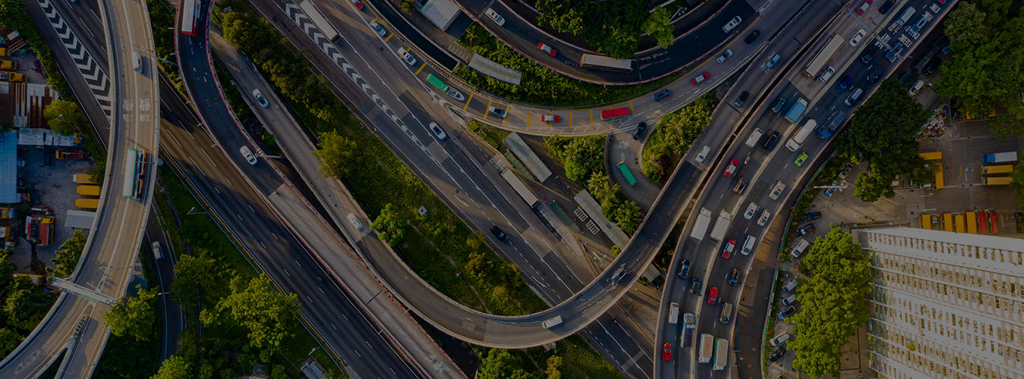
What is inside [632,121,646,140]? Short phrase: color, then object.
black car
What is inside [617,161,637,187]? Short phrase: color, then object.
green vehicle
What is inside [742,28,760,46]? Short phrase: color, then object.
black car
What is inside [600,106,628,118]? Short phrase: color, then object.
red vehicle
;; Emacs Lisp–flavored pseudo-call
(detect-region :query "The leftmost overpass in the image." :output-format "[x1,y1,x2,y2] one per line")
[0,0,161,379]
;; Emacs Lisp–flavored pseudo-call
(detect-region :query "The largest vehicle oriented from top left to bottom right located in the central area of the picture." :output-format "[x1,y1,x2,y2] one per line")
[499,166,542,208]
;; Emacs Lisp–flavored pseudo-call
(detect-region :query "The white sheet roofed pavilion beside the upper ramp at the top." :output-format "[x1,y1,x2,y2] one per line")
[420,0,461,34]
